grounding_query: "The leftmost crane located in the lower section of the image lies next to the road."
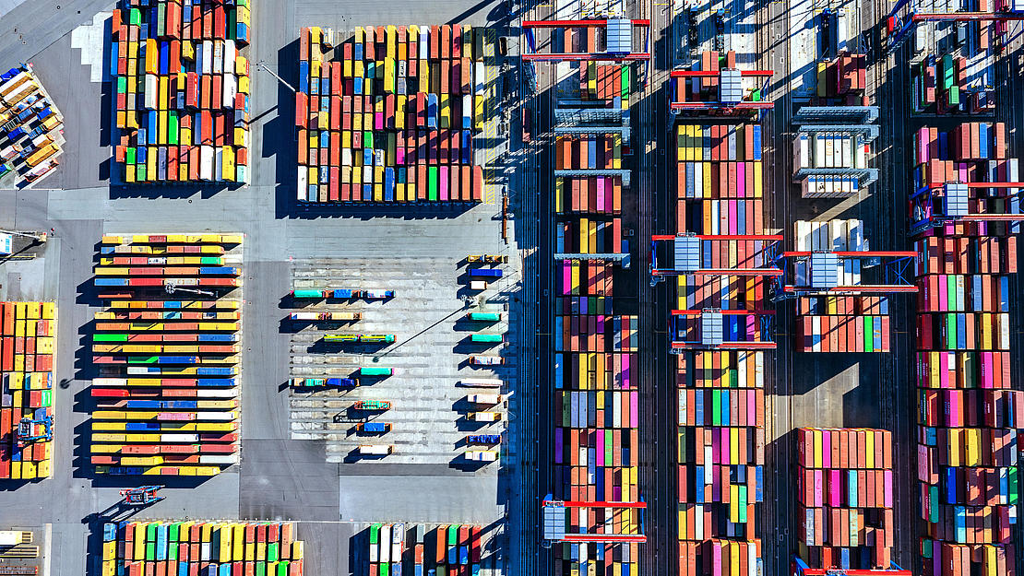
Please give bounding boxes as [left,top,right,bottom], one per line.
[542,484,648,550]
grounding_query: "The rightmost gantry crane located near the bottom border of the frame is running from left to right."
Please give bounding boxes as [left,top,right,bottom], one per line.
[790,546,912,576]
